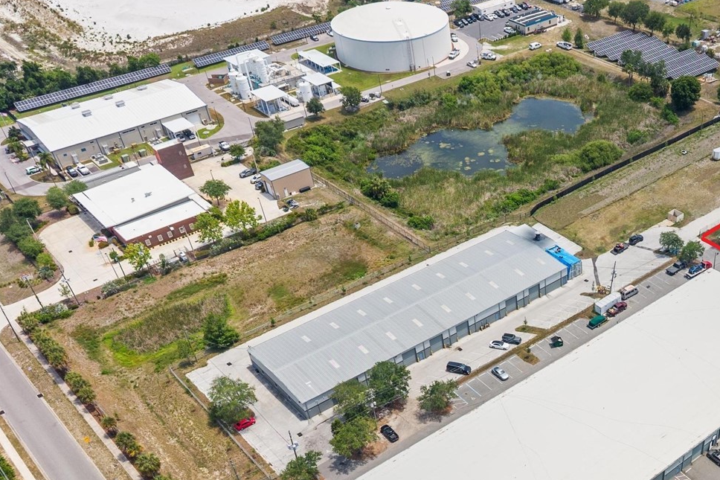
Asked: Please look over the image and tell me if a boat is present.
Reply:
Yes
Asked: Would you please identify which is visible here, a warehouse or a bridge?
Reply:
warehouse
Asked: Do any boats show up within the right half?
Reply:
Yes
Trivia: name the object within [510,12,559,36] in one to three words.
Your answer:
building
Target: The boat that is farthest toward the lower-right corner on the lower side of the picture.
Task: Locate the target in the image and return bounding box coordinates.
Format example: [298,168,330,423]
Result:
[581,306,611,330]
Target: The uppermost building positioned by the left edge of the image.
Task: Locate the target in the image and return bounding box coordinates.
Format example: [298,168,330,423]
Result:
[21,78,219,172]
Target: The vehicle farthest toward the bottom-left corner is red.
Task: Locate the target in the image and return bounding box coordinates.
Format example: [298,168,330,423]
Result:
[232,416,255,434]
